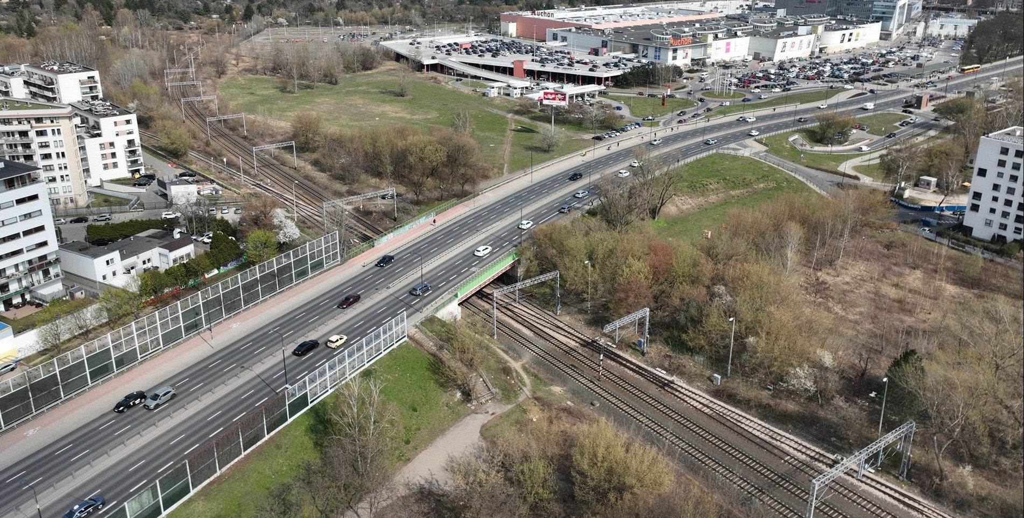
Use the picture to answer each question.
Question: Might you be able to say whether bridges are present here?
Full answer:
Yes, this view includes a bridge.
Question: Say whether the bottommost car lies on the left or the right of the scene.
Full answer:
The bottommost car sits on the left side.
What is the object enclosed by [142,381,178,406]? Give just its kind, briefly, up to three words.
car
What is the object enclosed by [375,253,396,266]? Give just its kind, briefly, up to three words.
vehicle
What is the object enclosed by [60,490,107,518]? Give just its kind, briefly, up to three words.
car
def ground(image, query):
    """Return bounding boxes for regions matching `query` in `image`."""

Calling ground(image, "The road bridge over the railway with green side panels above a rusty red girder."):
[381,206,525,315]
